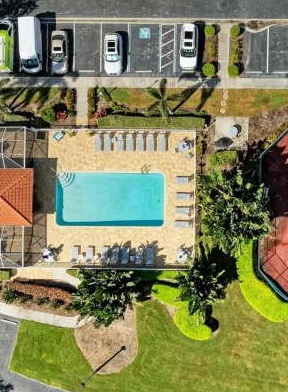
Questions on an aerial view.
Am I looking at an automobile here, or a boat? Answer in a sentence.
I can see an automobile in this picture.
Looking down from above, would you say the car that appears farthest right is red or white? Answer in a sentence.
The car that appears farthest right is white.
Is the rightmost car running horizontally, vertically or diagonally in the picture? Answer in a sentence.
I'd say the rightmost car is aligned vertically in the picture.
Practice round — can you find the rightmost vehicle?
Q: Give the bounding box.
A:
[178,25,200,70]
